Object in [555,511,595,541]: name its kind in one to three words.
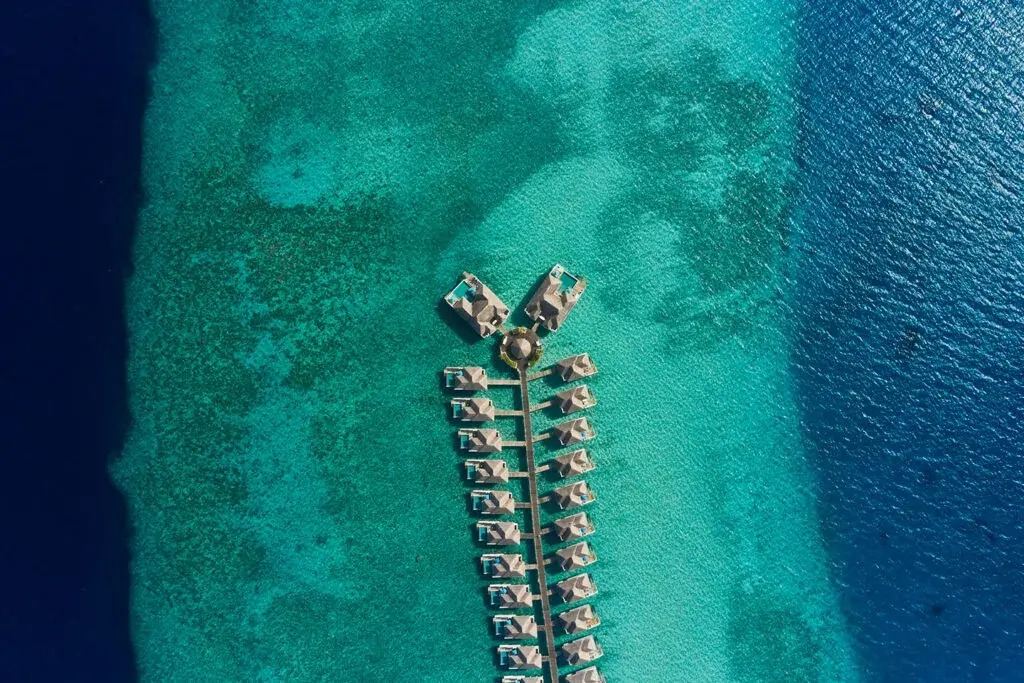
house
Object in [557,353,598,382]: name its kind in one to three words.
house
